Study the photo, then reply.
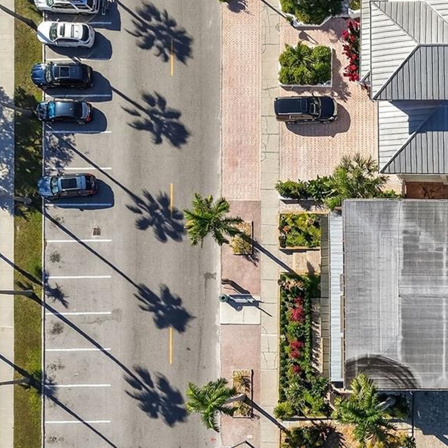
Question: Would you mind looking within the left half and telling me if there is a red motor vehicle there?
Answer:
No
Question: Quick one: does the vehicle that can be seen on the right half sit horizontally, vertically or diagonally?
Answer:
horizontally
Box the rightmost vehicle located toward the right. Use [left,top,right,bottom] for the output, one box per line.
[272,94,337,125]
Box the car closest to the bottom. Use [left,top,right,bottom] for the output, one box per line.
[37,171,100,200]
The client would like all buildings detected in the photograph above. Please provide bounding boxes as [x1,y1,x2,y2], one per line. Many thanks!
[318,197,448,393]
[360,0,448,188]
